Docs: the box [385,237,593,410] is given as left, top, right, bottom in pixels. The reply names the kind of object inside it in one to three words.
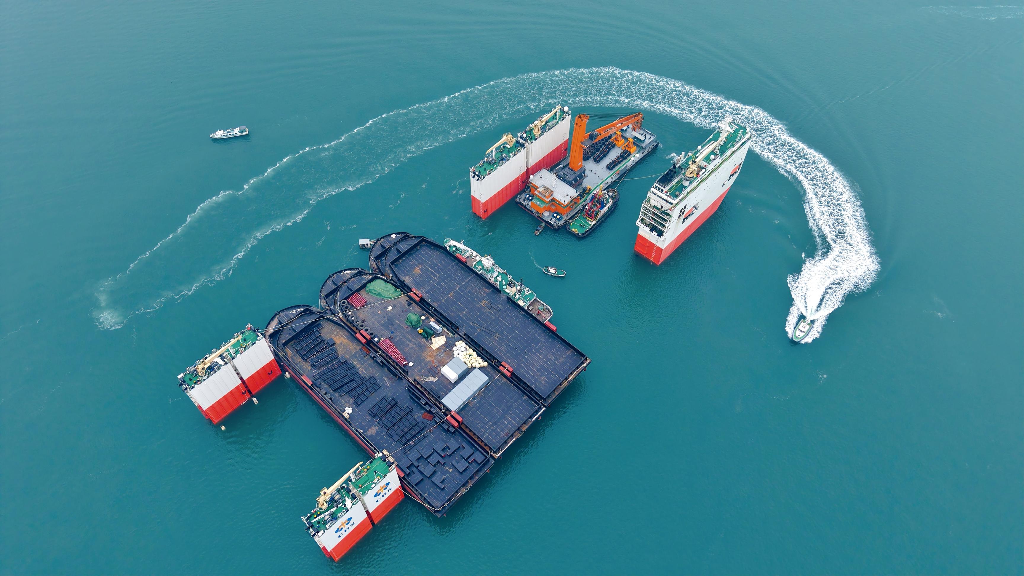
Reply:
ship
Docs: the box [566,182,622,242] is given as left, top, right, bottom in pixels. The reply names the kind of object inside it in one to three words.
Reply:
boat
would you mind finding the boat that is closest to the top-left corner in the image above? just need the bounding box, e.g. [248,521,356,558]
[208,125,248,138]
